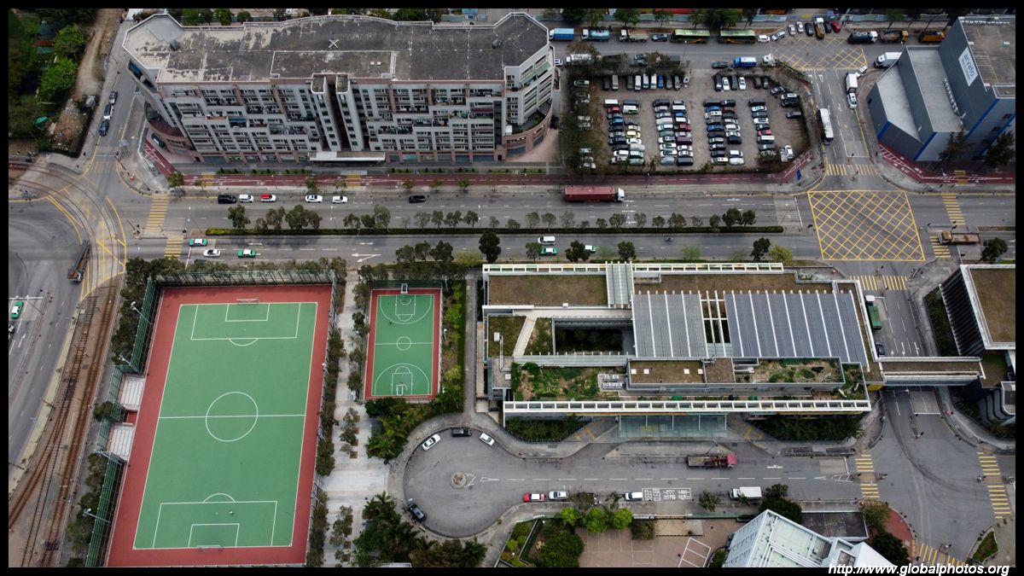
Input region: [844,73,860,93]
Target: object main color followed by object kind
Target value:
white vehicle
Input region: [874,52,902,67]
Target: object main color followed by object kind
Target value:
white vehicle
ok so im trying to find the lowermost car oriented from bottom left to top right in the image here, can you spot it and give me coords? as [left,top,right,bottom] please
[422,434,441,451]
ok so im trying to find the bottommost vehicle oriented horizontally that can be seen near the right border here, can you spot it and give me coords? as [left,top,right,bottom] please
[938,233,981,245]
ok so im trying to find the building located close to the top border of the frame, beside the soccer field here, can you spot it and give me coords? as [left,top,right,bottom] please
[123,12,561,163]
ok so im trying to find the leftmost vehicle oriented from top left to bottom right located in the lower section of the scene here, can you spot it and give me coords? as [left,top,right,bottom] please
[408,501,425,521]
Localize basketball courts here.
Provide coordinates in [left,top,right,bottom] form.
[364,288,441,399]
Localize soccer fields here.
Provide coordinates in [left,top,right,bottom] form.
[105,286,331,576]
